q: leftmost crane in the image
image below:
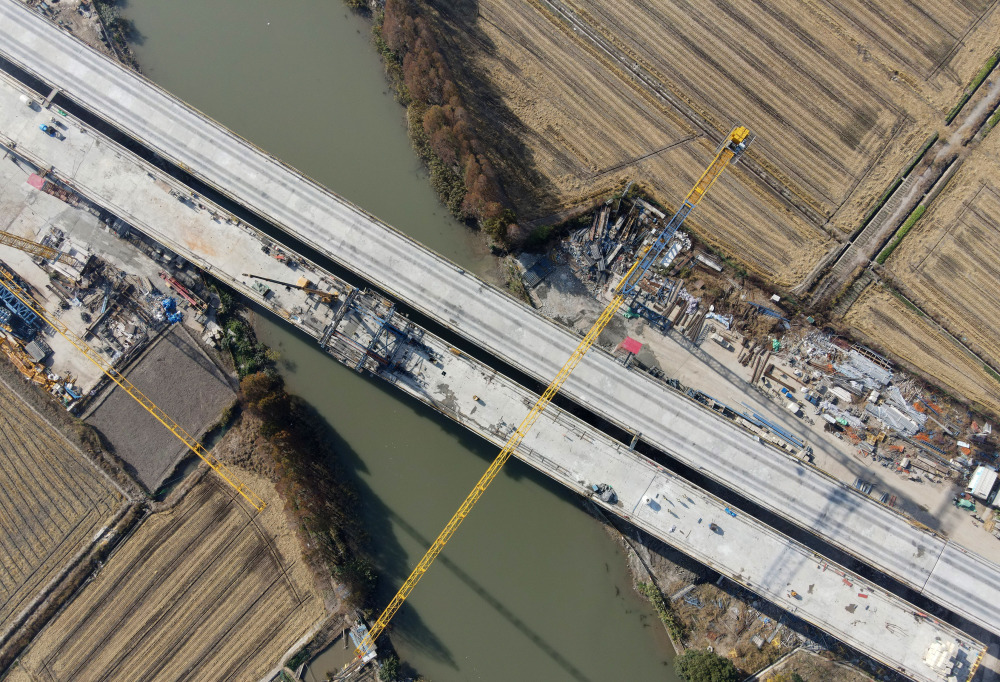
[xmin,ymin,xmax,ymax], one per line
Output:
[0,230,269,514]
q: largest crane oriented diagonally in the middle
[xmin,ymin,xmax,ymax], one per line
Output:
[356,128,751,651]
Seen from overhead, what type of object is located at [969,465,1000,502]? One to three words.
shed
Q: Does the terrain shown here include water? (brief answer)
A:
Yes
